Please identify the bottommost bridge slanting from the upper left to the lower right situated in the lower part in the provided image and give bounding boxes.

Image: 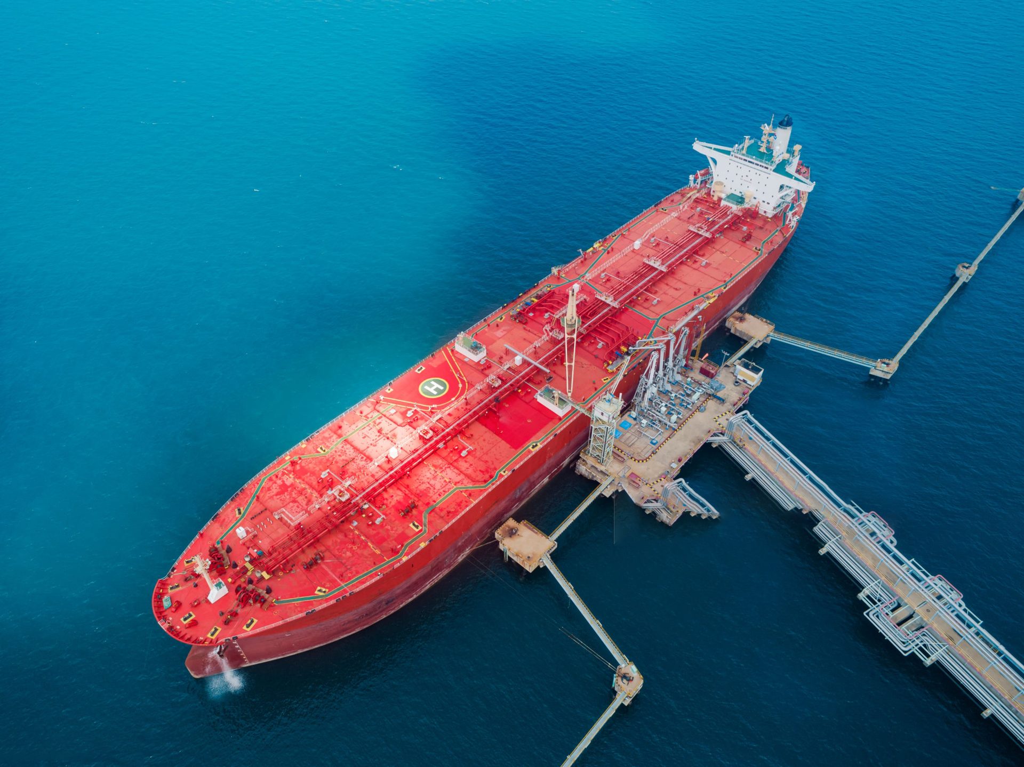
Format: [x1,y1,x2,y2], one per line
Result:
[542,553,629,665]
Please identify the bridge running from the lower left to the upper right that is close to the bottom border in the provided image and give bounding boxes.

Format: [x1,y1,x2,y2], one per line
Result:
[556,689,627,767]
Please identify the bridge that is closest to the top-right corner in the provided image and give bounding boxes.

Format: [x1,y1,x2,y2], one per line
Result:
[970,197,1024,266]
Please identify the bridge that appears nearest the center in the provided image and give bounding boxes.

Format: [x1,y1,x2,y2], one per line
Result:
[549,474,615,542]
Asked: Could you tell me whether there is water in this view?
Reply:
Yes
